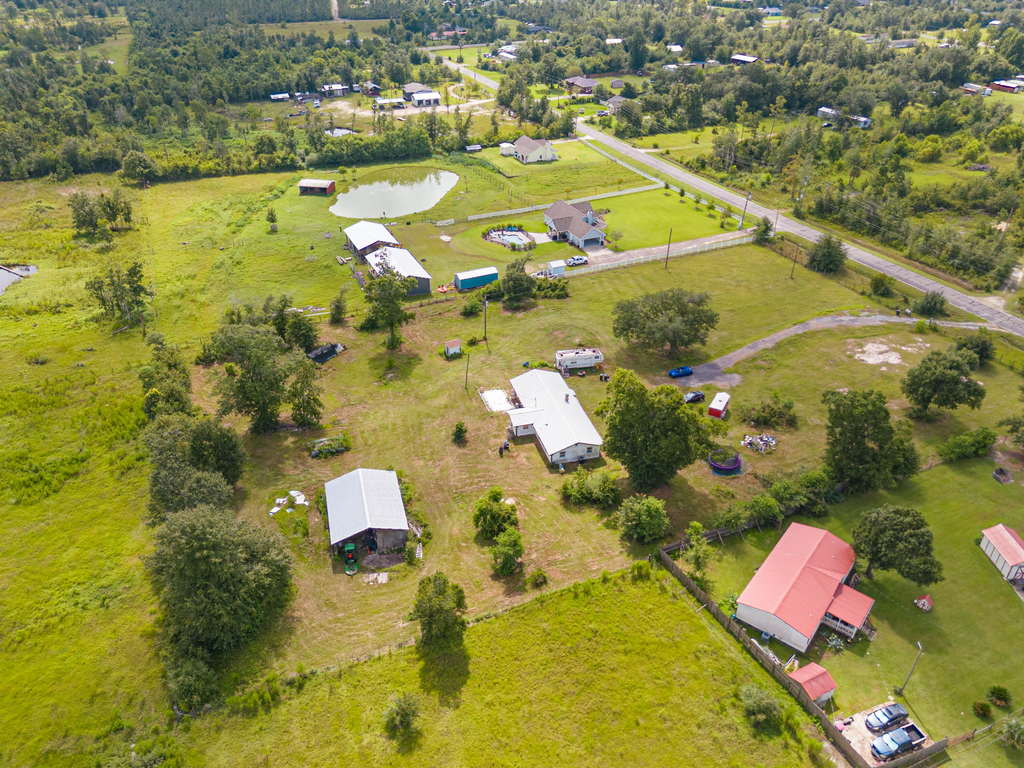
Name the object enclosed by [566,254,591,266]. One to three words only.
vehicle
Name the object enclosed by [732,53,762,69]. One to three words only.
barn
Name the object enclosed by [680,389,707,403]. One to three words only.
car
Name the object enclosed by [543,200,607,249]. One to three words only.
house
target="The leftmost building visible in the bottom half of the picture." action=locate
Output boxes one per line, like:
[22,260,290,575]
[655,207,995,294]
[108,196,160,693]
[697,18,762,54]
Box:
[325,471,409,558]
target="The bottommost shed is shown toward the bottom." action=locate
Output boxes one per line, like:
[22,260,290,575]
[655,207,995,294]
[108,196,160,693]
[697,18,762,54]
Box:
[788,662,837,708]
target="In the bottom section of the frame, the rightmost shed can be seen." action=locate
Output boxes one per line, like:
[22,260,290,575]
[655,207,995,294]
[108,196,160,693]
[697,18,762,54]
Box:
[979,527,1024,586]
